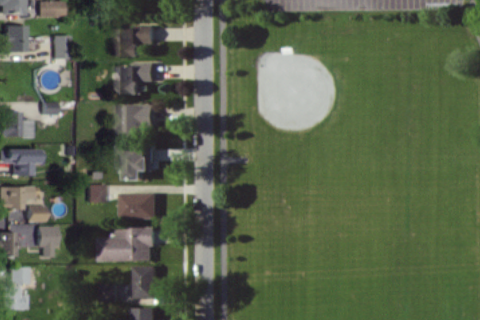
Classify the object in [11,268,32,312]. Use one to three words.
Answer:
house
